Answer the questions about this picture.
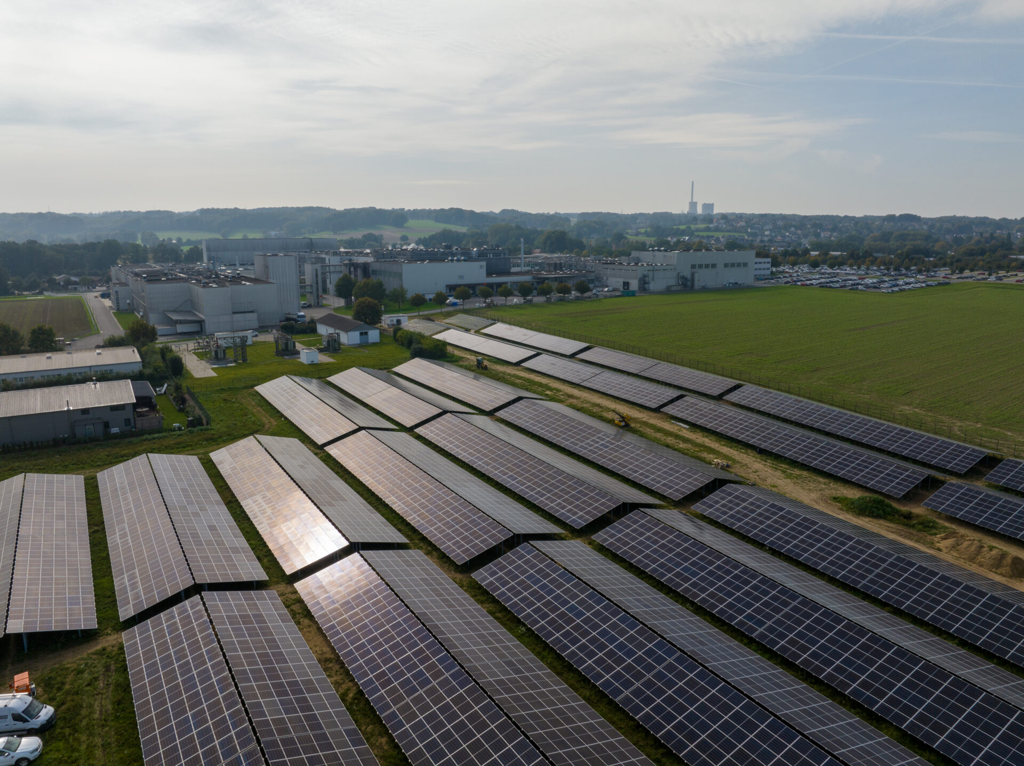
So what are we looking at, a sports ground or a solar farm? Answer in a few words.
solar farm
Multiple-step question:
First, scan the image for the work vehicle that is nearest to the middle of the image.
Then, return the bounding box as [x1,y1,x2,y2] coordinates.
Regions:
[472,357,489,372]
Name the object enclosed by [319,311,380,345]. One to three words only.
house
